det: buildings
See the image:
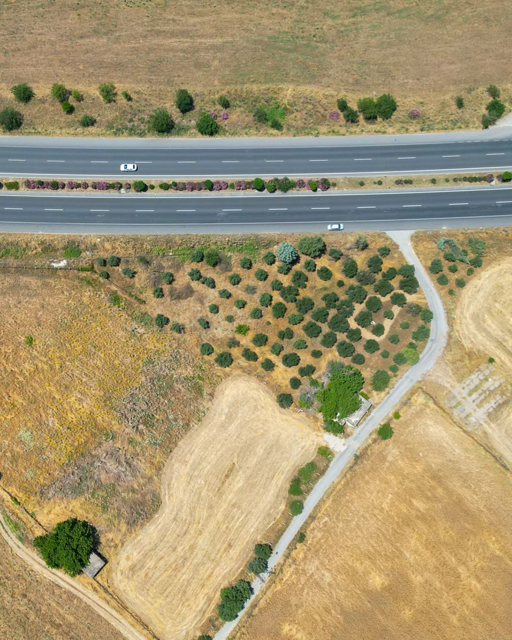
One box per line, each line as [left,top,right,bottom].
[342,399,372,426]
[80,549,108,578]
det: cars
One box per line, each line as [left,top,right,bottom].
[120,164,137,171]
[327,223,343,231]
